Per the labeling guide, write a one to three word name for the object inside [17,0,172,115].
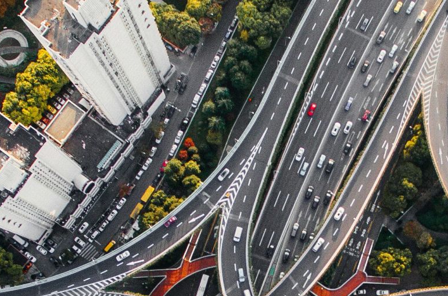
building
